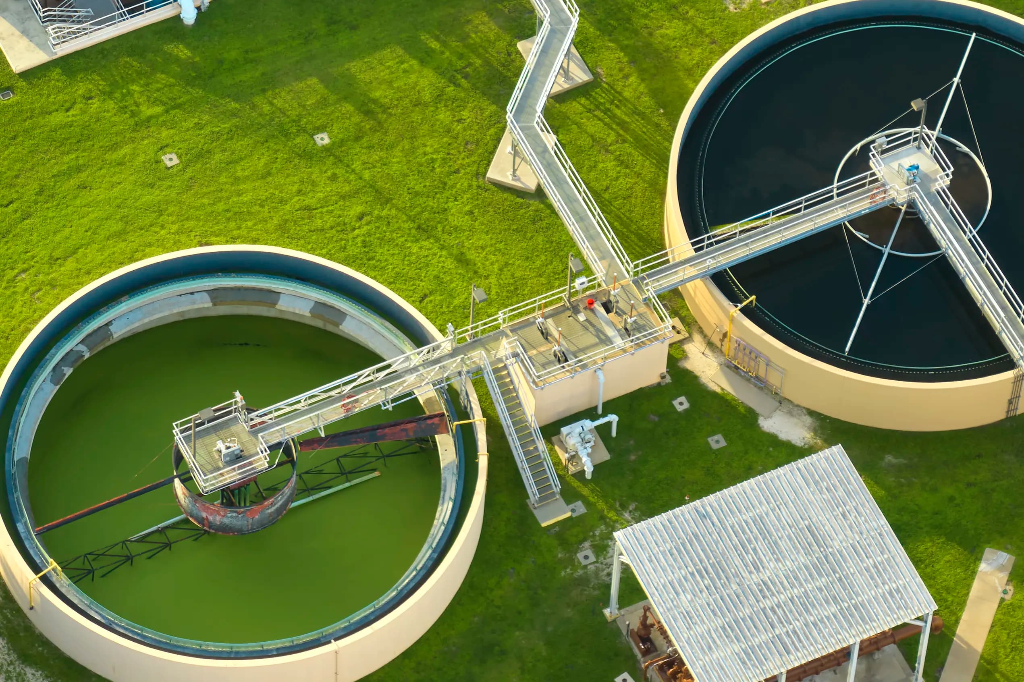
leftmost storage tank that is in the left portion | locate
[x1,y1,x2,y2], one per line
[0,243,487,682]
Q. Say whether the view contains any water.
Yes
